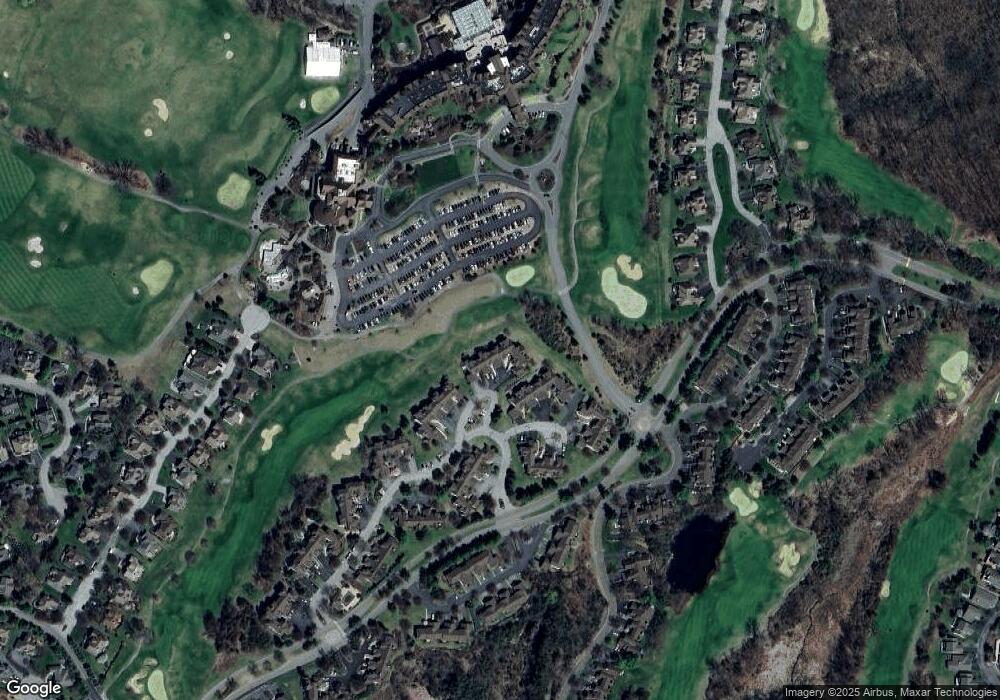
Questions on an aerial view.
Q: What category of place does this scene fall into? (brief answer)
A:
golf course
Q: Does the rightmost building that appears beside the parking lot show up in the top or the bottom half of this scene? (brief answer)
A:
top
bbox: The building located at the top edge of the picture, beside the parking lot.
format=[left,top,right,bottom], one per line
[367,0,569,134]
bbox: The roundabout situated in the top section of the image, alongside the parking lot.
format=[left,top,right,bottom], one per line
[529,160,563,200]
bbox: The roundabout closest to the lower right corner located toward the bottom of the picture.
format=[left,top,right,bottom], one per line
[622,405,673,442]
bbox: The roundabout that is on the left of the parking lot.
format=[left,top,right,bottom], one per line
[242,305,271,334]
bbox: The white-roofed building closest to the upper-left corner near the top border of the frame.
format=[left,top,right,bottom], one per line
[306,34,340,73]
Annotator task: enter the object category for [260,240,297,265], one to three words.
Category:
building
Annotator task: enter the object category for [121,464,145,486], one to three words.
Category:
house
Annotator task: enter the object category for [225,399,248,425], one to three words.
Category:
house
